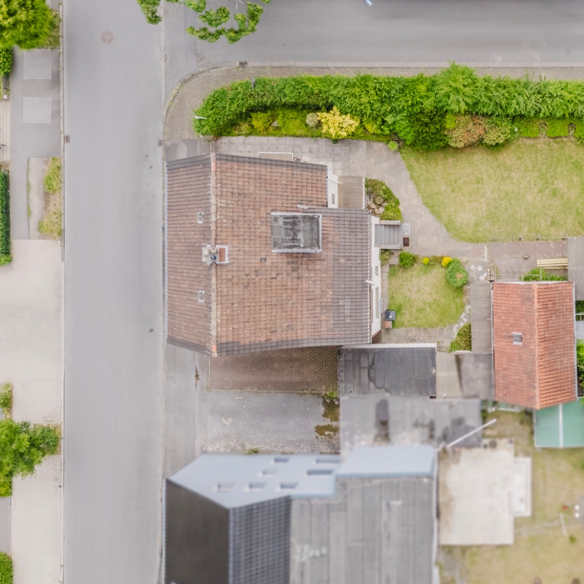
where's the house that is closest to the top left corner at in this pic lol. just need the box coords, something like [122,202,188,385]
[165,153,381,355]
